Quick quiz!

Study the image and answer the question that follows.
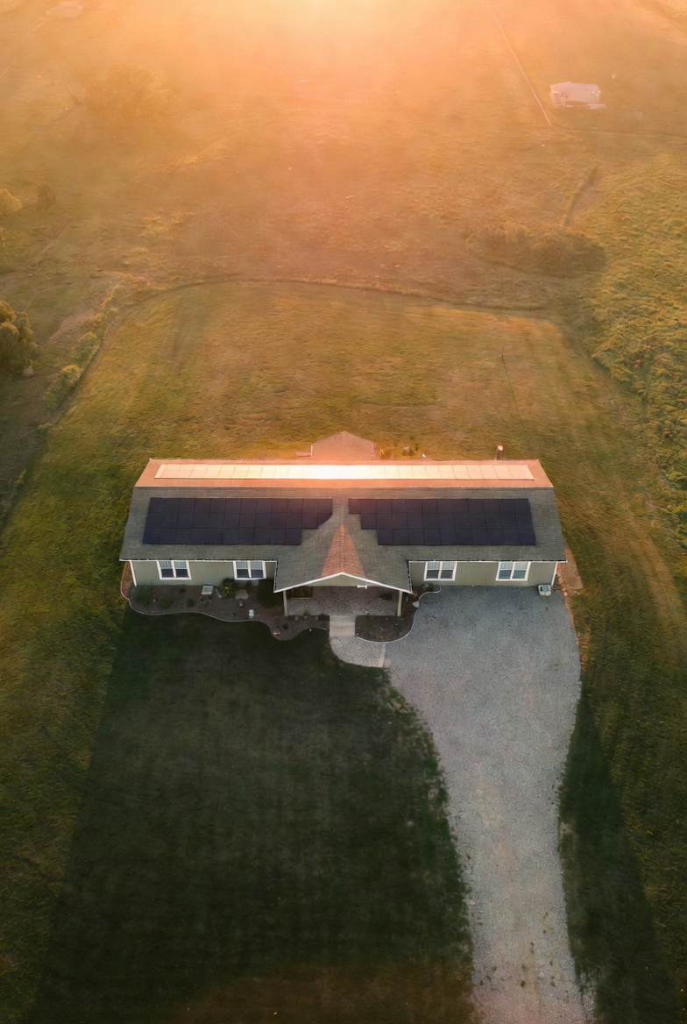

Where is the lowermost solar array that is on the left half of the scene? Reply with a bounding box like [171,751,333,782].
[143,496,332,543]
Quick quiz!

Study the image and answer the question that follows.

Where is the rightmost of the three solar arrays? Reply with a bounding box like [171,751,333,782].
[349,496,536,543]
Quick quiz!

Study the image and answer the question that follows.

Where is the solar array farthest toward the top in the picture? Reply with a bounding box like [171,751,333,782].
[153,464,535,477]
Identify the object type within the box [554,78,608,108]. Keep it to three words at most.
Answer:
barn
